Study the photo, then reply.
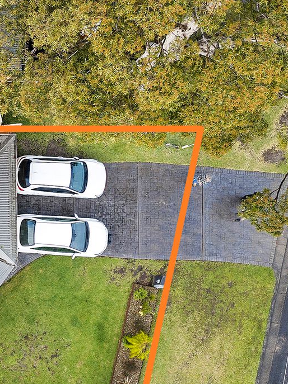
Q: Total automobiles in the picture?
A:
two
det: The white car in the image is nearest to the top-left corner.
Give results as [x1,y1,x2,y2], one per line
[19,155,103,199]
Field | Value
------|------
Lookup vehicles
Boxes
[19,214,105,258]
[19,155,103,199]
